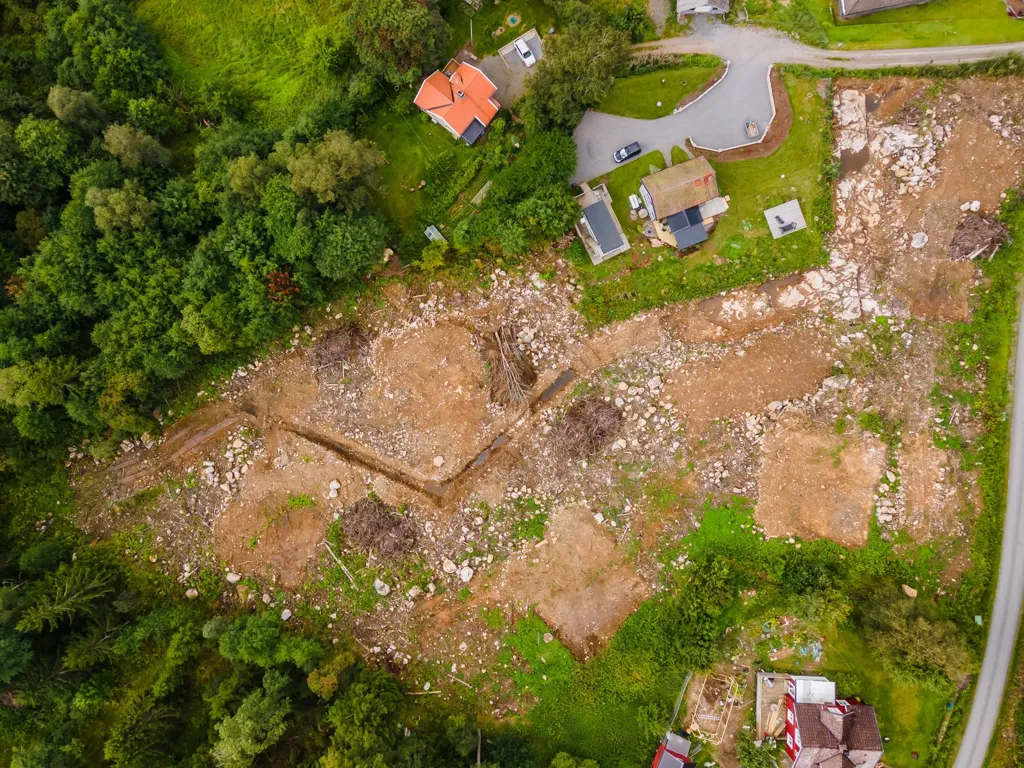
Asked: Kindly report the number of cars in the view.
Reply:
2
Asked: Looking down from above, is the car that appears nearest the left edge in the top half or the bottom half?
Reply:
top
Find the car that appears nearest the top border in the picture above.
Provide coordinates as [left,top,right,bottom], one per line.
[513,36,536,67]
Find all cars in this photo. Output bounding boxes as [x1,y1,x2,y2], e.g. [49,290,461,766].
[513,36,536,67]
[613,140,644,162]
